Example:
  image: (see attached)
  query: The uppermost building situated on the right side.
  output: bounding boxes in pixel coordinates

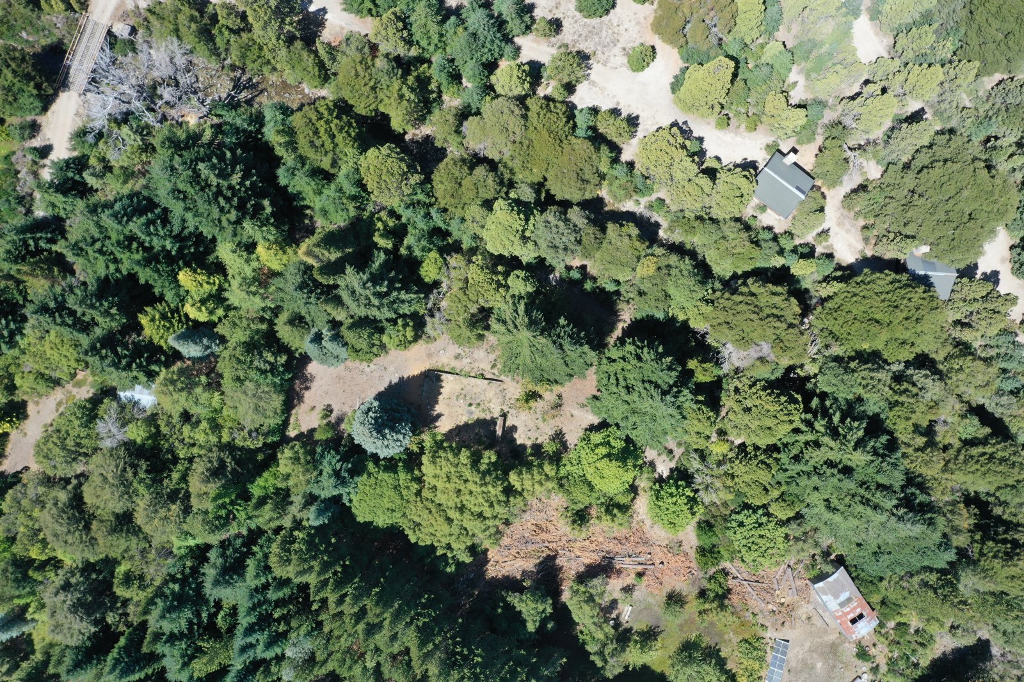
[751,151,815,219]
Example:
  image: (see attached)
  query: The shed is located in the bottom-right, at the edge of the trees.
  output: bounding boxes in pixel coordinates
[809,562,879,641]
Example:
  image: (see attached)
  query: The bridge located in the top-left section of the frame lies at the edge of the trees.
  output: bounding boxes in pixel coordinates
[54,11,108,96]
